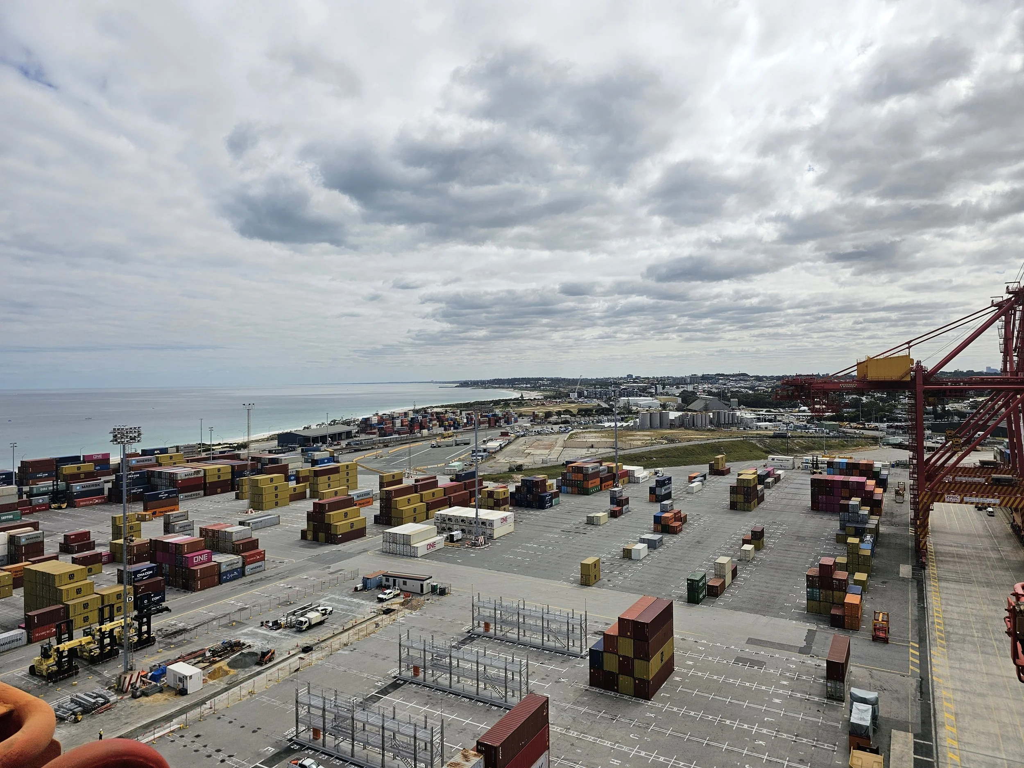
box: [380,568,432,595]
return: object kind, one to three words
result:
building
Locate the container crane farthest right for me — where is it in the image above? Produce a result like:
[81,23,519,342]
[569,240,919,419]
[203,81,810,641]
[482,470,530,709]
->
[774,277,1024,570]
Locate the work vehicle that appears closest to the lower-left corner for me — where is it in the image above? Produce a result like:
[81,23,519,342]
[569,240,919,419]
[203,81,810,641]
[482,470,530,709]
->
[41,618,94,679]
